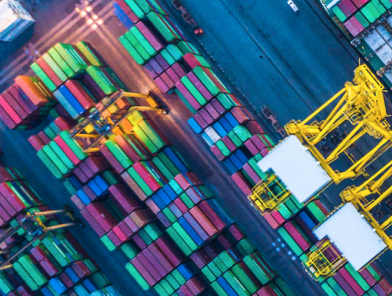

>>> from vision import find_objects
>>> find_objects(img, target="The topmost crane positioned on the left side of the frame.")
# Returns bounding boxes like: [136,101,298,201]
[66,88,165,156]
